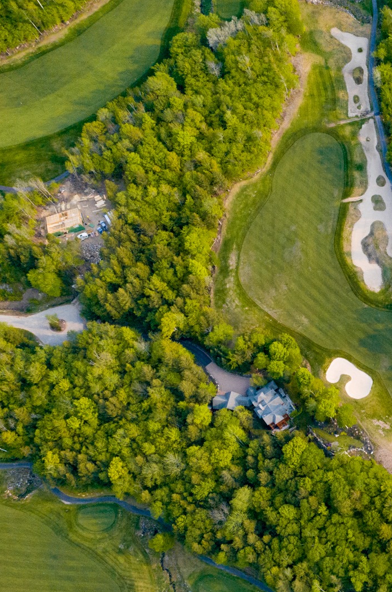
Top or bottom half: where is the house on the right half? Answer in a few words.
bottom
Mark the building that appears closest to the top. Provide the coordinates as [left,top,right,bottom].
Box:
[46,209,85,240]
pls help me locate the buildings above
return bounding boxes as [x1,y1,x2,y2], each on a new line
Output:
[46,209,85,240]
[211,380,298,433]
